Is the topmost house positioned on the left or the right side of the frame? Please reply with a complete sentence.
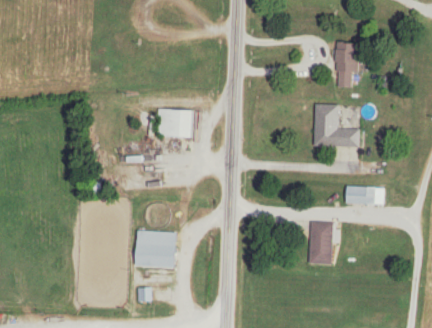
It is on the right.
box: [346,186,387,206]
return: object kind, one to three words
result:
shed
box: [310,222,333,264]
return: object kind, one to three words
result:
house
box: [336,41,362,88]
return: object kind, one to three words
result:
house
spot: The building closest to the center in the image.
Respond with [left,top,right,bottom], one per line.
[158,108,196,140]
